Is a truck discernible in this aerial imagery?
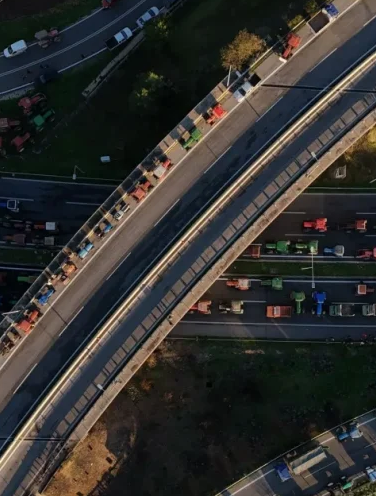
Yes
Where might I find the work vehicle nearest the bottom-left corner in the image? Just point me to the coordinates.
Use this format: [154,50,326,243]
[1,329,22,350]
